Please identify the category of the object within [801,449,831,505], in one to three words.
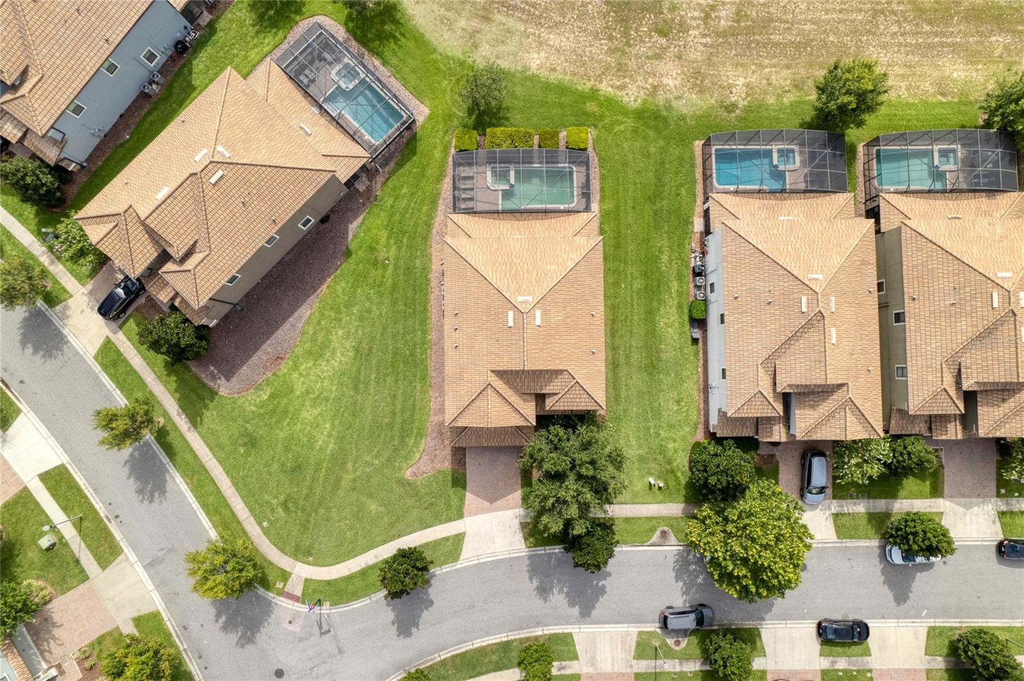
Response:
car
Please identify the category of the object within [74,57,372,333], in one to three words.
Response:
house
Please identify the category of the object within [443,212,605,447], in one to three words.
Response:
house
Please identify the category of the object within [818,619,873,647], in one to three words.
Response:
car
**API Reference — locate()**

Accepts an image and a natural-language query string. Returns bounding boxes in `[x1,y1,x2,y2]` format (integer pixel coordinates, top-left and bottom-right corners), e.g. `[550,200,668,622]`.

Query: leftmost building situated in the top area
[0,0,209,166]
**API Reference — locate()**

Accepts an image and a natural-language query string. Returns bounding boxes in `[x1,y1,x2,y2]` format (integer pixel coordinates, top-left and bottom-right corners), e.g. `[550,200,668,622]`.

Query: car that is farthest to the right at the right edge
[1002,538,1024,561]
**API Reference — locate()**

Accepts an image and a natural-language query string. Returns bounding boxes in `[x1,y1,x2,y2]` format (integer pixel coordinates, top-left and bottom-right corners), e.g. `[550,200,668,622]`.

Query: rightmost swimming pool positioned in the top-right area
[878,142,959,190]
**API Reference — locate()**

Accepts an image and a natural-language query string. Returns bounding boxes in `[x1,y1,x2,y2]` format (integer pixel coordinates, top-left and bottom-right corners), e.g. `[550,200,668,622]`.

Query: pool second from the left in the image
[490,160,577,213]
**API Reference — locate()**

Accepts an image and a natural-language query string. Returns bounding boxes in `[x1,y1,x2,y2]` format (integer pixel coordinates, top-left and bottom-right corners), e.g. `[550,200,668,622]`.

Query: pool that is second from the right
[713,144,800,192]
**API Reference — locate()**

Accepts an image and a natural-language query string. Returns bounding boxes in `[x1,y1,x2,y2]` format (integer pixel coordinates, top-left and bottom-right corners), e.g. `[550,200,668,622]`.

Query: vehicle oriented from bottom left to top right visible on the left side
[92,275,145,323]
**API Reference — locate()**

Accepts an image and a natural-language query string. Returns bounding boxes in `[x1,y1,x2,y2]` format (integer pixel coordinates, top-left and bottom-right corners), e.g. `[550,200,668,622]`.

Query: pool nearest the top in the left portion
[319,57,404,143]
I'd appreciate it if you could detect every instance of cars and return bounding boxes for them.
[660,606,716,635]
[818,619,873,647]
[1002,538,1024,561]
[801,449,831,505]
[887,542,944,567]
[92,275,145,323]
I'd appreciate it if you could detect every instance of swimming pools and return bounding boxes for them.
[490,160,577,213]
[319,57,404,143]
[878,142,959,190]
[713,144,800,192]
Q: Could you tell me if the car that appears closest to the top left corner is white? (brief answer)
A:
No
